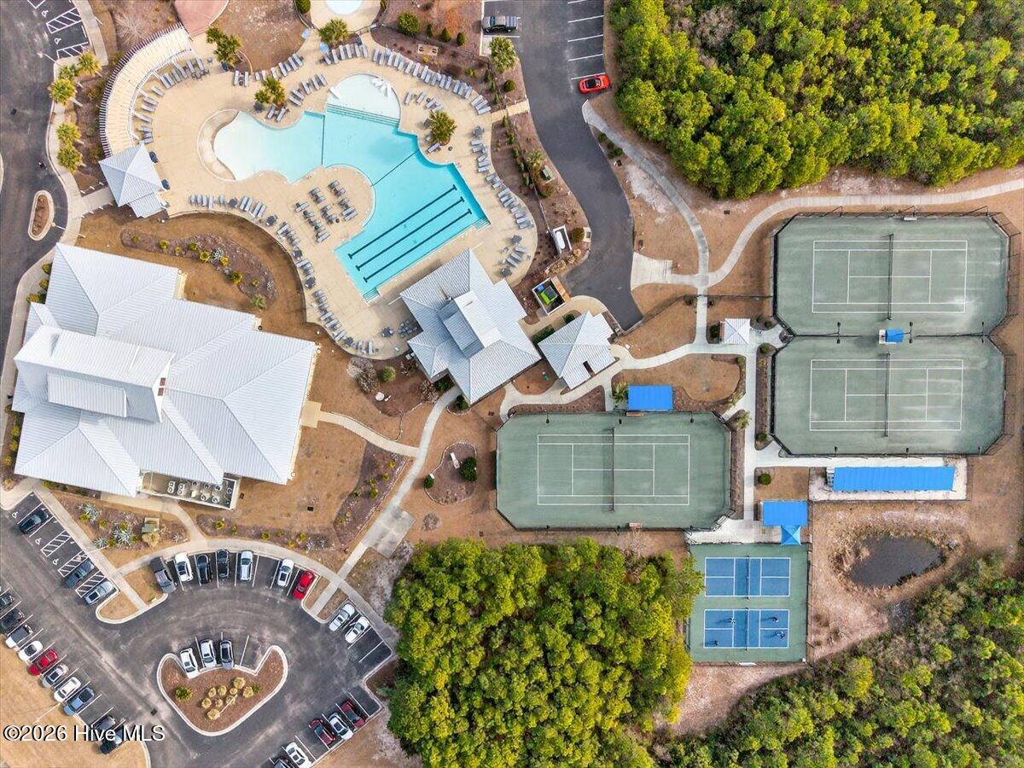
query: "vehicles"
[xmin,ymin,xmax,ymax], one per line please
[41,661,72,688]
[238,549,255,581]
[309,716,337,748]
[66,686,97,713]
[4,621,37,649]
[339,698,366,730]
[482,15,519,33]
[328,710,355,740]
[194,552,213,584]
[0,605,30,632]
[19,507,52,534]
[343,614,372,643]
[284,739,312,768]
[30,648,61,674]
[579,74,611,93]
[64,560,95,586]
[173,551,193,583]
[156,556,178,592]
[327,602,357,631]
[100,723,132,751]
[294,568,315,600]
[17,637,48,663]
[277,557,295,588]
[86,579,118,605]
[219,638,235,669]
[214,547,231,579]
[201,636,218,669]
[88,711,120,739]
[53,674,85,703]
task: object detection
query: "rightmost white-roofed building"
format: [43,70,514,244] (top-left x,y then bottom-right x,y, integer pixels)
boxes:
[719,318,751,344]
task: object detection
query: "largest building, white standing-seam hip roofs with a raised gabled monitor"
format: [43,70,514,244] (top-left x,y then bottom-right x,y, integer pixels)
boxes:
[11,244,317,511]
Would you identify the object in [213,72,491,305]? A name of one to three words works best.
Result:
swimming pool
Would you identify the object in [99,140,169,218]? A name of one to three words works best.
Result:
gazebo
